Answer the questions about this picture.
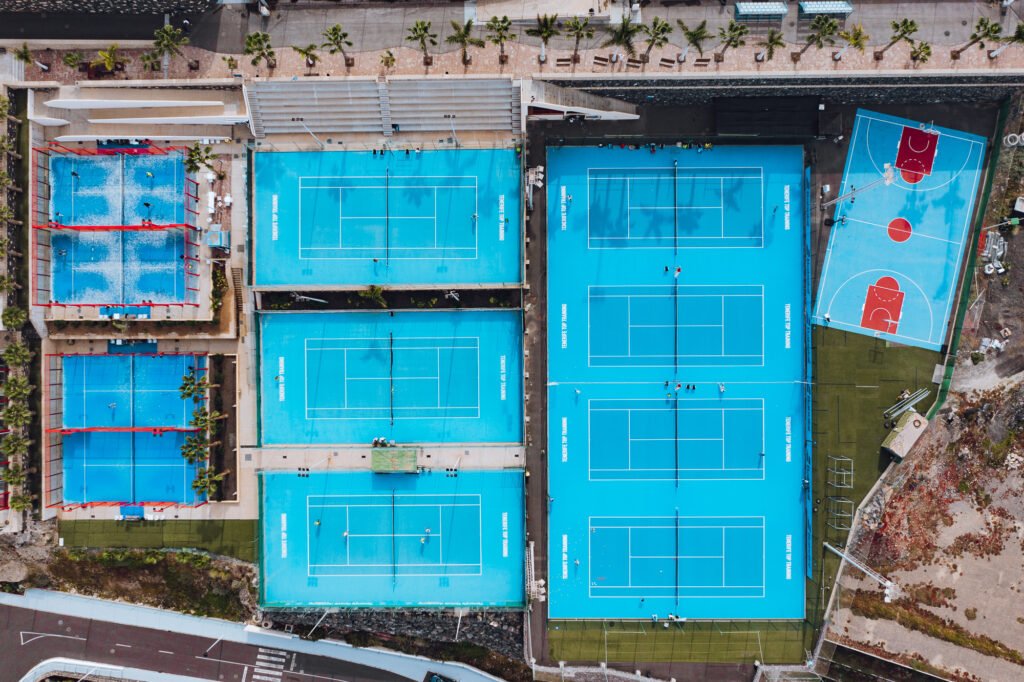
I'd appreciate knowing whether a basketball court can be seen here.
Yes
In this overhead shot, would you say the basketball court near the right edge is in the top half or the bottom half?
top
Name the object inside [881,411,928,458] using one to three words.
shed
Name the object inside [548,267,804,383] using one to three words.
tennis court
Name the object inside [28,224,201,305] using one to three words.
sports court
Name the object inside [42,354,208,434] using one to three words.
sports court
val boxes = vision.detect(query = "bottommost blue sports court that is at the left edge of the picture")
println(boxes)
[42,430,208,514]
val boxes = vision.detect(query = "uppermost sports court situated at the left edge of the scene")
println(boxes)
[28,144,201,229]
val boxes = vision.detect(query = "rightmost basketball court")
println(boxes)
[812,108,988,351]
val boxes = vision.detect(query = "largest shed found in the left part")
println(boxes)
[372,446,419,471]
